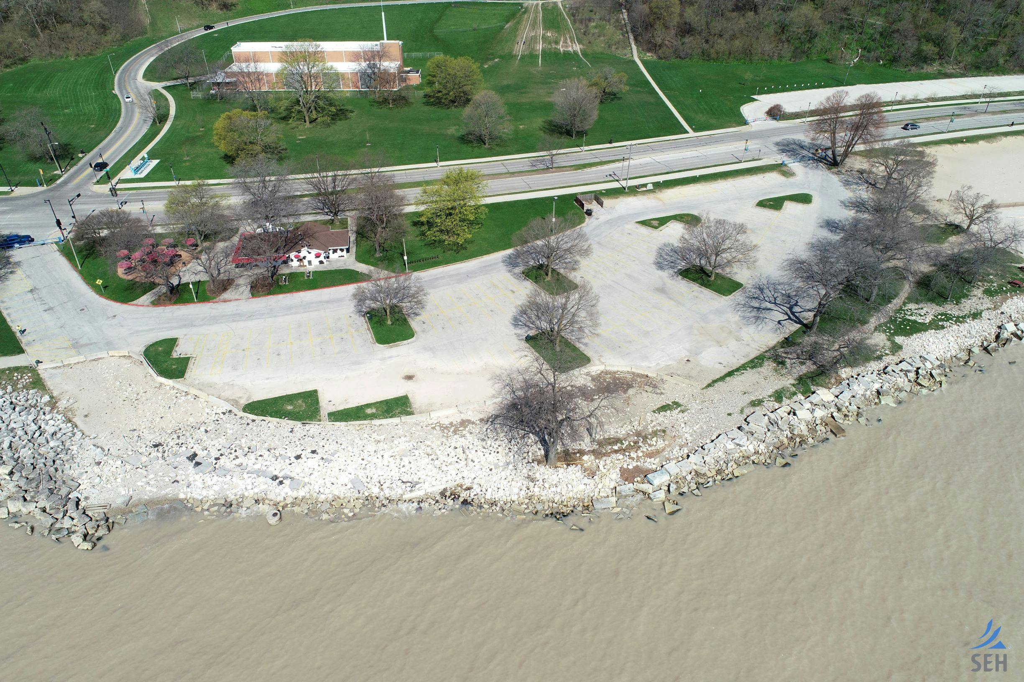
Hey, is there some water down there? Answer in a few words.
Yes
